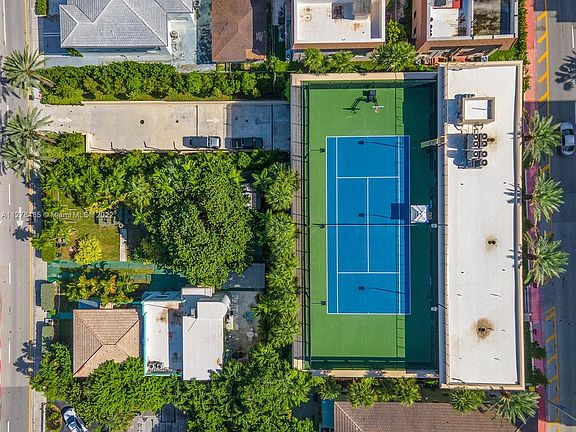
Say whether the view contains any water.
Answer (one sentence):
No, the picture contains no water.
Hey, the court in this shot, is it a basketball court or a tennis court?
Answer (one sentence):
I'd say the court is a tennis court.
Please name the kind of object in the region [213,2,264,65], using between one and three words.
house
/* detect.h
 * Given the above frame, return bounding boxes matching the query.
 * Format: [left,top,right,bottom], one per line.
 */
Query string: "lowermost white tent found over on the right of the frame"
[406,204,428,223]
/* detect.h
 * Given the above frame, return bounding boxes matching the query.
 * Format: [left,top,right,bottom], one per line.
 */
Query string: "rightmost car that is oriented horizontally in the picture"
[226,136,263,151]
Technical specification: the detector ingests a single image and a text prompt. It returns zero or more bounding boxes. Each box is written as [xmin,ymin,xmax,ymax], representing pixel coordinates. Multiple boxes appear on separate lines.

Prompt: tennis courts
[302,80,436,370]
